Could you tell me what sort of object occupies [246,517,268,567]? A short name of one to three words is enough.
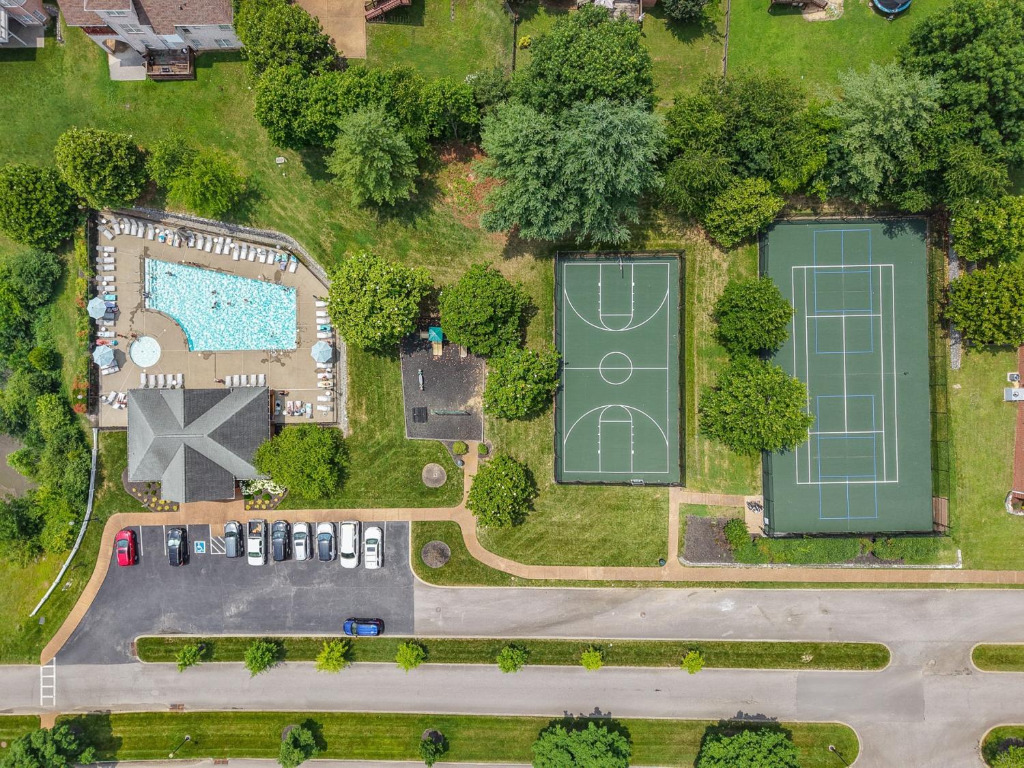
truck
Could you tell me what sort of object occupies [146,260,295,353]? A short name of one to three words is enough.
swimming pool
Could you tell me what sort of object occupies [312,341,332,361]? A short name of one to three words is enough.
umbrella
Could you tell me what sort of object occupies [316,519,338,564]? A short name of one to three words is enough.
car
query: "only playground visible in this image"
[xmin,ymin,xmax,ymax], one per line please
[401,328,485,440]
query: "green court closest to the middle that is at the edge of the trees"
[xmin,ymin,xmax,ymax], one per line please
[556,256,678,483]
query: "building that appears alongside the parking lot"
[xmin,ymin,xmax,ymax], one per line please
[127,388,274,504]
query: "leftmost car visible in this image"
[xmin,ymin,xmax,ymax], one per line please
[113,526,139,568]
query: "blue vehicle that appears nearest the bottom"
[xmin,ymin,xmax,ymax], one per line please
[344,616,386,638]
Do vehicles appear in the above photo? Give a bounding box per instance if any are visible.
[223,516,247,561]
[344,616,386,638]
[316,519,338,564]
[338,520,361,569]
[113,526,139,568]
[271,518,293,562]
[364,525,384,570]
[246,517,268,567]
[292,520,314,562]
[165,524,190,569]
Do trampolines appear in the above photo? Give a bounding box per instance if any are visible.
[873,0,914,22]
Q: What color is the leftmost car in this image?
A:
red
